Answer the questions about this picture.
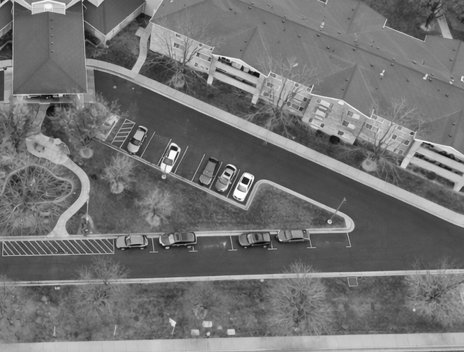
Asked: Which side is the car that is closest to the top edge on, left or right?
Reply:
left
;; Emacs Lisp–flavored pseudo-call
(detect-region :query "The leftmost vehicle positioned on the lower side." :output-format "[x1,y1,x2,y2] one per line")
[114,233,150,250]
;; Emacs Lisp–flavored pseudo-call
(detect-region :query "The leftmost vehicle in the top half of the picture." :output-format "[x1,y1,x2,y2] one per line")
[126,125,148,155]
